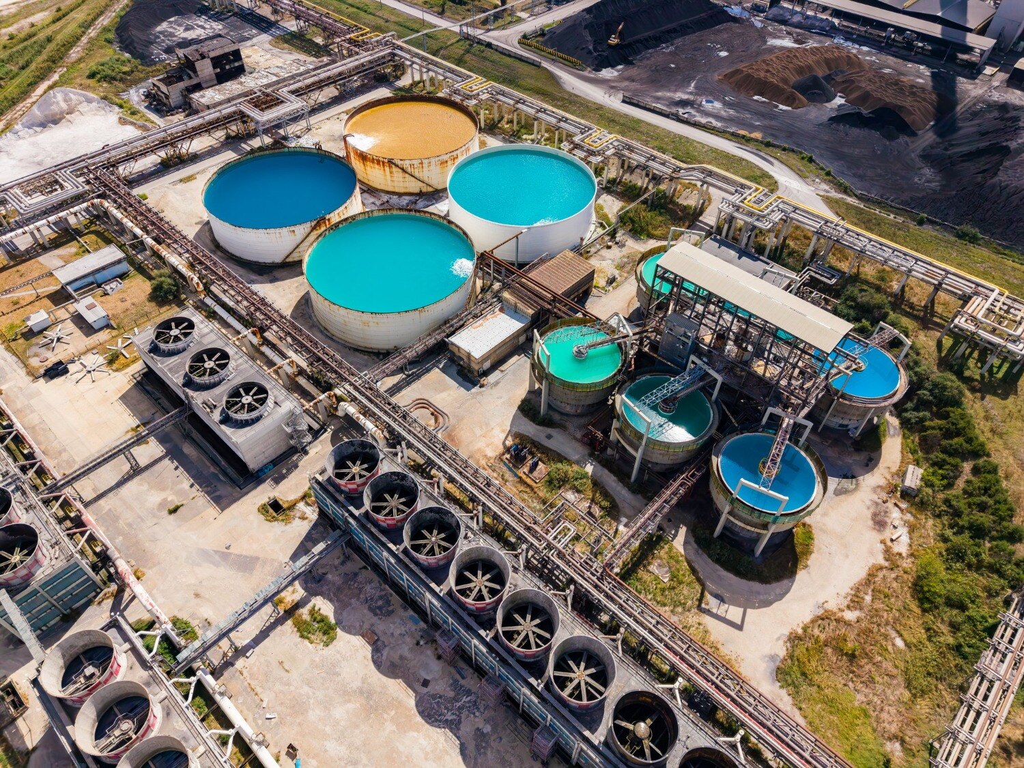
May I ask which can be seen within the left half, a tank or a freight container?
tank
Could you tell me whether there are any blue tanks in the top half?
Yes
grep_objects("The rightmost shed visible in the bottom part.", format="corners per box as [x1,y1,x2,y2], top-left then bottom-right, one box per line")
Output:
[902,466,927,502]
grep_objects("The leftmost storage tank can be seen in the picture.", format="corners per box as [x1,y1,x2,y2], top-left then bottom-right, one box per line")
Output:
[202,147,369,267]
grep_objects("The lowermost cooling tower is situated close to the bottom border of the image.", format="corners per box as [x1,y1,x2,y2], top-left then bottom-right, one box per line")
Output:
[25,612,230,768]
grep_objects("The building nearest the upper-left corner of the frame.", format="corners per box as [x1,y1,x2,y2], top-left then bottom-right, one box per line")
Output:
[149,32,250,106]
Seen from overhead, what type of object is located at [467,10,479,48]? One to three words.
pylon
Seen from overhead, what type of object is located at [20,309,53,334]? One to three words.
shed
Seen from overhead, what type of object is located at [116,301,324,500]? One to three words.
cooling tower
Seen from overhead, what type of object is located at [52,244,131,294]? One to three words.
shed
